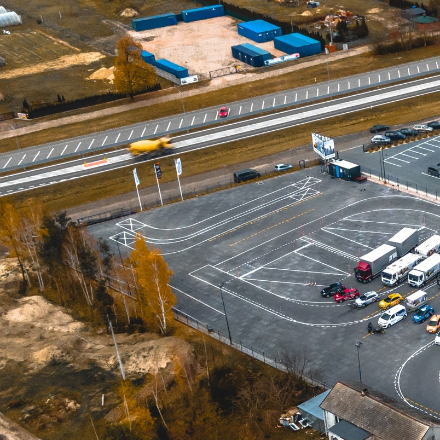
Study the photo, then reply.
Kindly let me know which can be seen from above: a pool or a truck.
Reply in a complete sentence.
Of the two, only a truck appears.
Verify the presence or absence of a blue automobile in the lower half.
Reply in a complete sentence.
Yes, the scene does show a blue automobile in the lower half.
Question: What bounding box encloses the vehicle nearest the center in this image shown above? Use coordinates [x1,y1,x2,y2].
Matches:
[232,167,259,181]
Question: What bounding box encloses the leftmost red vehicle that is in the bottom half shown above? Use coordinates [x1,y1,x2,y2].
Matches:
[334,285,361,301]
